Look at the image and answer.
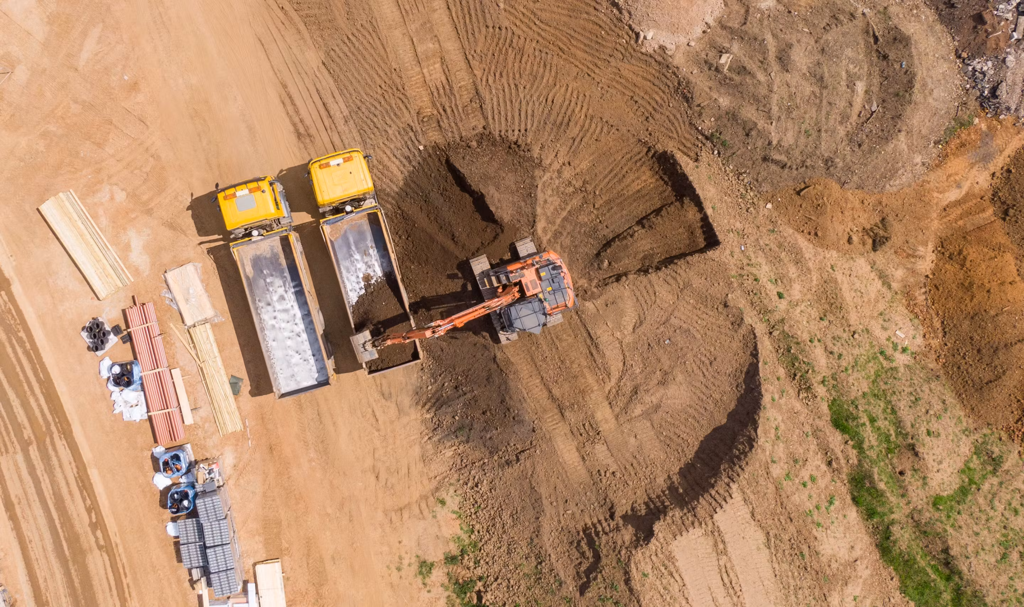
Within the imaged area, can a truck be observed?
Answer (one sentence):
Yes, the picture does show a truck.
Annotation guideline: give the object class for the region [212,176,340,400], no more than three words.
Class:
truck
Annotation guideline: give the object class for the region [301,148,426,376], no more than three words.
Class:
truck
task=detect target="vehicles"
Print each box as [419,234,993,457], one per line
[348,237,574,367]
[301,148,426,376]
[212,176,340,400]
